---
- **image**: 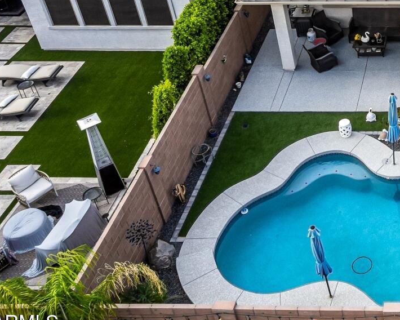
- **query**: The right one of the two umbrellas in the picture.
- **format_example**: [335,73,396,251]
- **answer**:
[383,92,400,165]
